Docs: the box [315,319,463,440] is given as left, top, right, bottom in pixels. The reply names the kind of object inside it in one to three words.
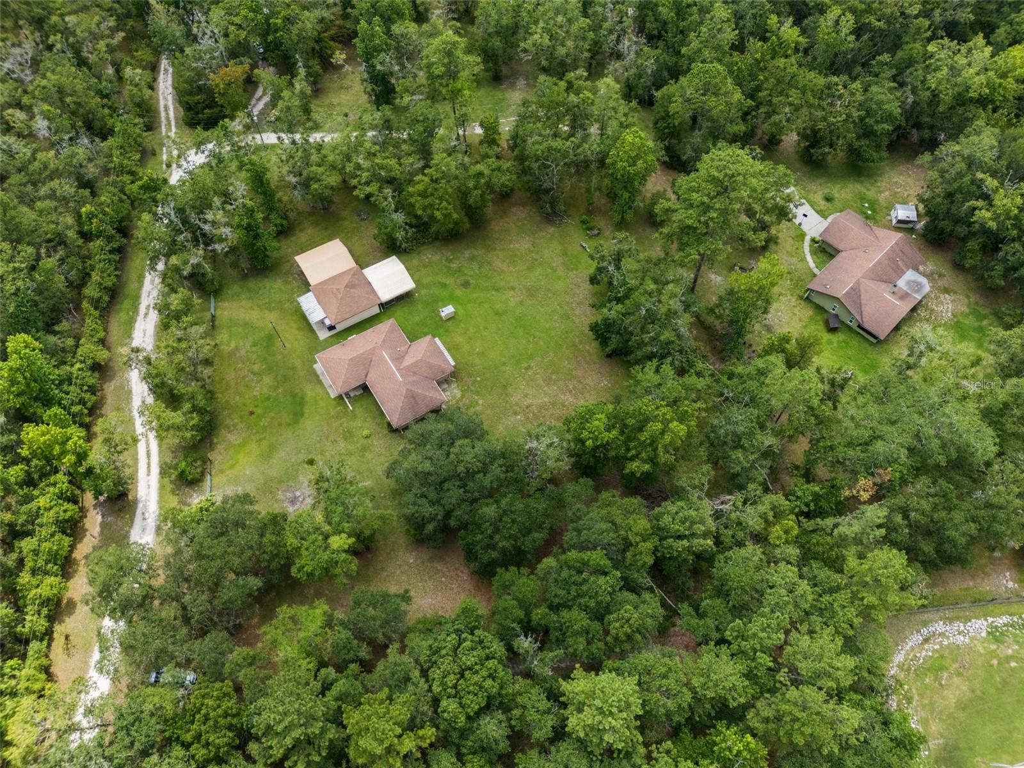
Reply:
house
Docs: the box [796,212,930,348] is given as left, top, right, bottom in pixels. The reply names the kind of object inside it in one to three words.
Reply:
building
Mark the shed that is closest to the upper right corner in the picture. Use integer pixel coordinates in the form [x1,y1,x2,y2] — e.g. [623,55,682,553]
[882,208,919,232]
